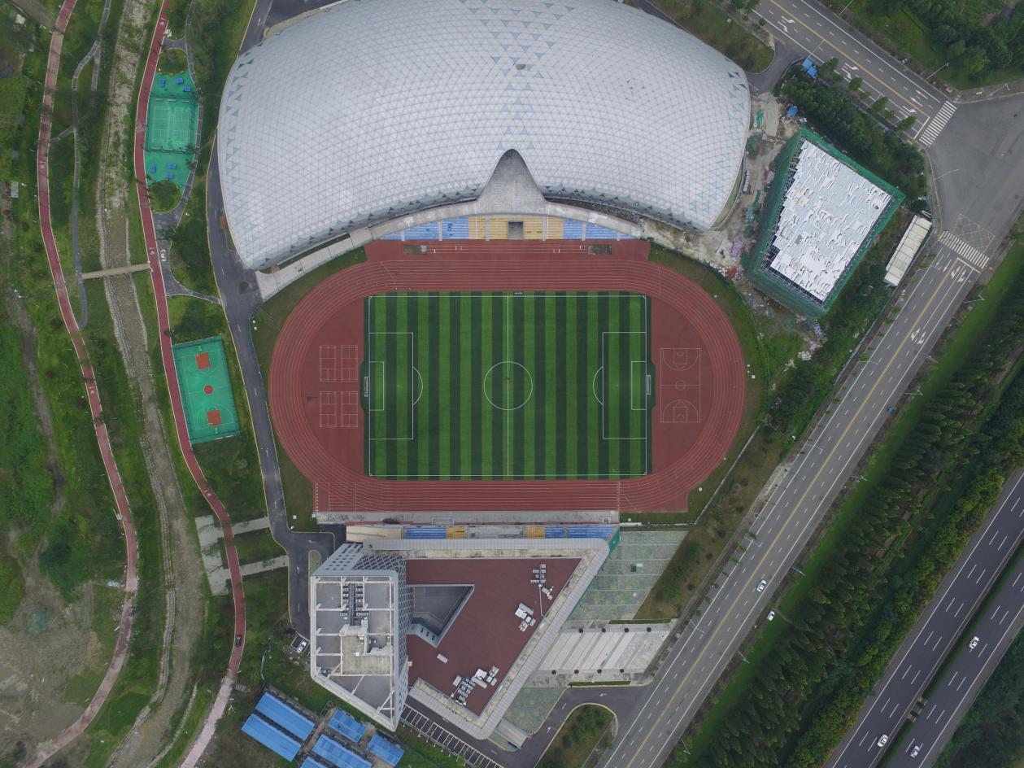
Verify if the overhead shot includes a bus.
No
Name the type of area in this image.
sports ground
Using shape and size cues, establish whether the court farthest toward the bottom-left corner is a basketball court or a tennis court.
basketball court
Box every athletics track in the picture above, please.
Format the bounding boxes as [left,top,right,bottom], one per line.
[269,240,746,512]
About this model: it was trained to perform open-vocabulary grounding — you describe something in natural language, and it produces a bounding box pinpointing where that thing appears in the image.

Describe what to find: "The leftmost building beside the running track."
[310,545,416,731]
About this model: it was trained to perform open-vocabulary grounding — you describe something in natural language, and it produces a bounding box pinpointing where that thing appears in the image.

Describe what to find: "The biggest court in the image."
[173,336,239,444]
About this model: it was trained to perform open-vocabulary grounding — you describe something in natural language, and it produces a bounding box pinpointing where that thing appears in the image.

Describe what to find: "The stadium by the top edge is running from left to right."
[216,0,751,268]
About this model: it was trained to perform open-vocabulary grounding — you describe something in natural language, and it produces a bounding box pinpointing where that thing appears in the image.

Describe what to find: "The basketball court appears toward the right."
[660,348,701,423]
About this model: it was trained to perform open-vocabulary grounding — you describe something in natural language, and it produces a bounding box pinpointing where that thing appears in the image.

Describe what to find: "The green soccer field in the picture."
[360,292,655,480]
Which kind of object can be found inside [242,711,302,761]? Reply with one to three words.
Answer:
shed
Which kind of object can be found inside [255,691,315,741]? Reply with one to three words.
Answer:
shed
